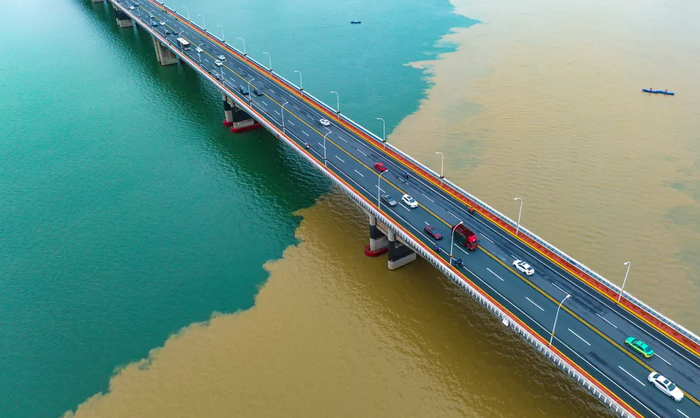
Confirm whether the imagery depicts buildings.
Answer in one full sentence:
No, no building can be seen from above.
